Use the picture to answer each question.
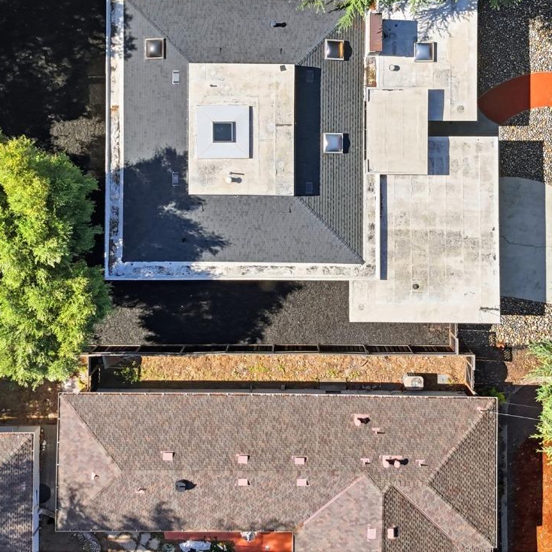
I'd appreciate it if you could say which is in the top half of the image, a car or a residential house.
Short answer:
residential house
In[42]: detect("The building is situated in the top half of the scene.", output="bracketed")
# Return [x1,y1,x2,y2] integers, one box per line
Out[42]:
[106,0,499,323]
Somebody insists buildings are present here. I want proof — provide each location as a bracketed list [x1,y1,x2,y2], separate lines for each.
[0,424,42,552]
[106,0,499,323]
[53,385,500,552]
